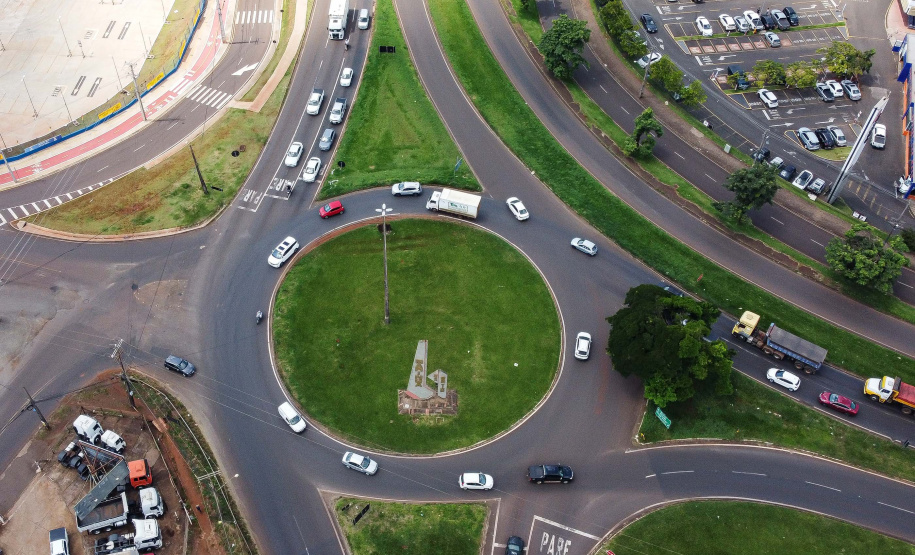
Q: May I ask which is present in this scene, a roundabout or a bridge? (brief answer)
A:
roundabout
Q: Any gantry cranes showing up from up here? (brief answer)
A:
No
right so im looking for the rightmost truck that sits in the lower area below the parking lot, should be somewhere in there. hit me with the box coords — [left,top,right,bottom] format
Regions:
[860,374,915,415]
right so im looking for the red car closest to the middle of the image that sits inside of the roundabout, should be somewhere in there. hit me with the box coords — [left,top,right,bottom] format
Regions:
[318,200,345,218]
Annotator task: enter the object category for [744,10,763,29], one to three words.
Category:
vehicle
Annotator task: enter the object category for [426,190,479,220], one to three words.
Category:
truck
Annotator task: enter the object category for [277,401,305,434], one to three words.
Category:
car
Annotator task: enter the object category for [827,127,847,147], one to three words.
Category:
car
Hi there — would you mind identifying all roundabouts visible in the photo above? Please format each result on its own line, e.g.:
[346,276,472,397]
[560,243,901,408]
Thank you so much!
[197,181,631,517]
